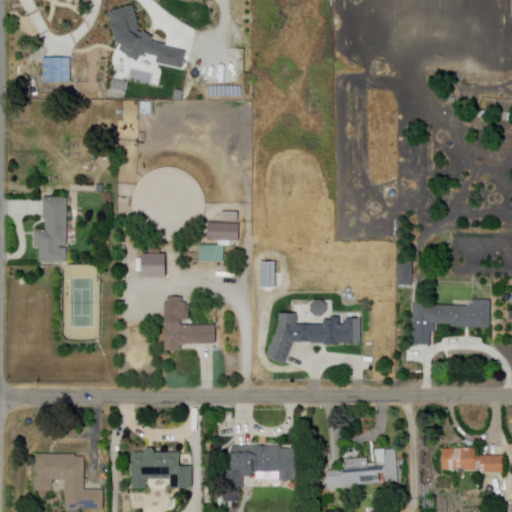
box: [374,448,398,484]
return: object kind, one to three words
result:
house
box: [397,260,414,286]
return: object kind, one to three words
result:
building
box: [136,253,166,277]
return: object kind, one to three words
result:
barn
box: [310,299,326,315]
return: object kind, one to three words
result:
gazebo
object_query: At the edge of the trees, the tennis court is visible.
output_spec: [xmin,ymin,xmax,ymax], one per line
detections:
[63,264,101,340]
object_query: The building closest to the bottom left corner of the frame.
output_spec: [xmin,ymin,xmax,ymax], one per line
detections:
[34,454,103,510]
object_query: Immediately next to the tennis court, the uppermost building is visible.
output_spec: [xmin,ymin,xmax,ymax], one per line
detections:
[33,196,66,262]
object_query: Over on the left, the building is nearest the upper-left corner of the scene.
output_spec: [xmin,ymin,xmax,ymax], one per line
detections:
[42,56,70,82]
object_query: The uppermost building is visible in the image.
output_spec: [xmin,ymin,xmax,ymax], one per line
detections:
[109,6,186,66]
